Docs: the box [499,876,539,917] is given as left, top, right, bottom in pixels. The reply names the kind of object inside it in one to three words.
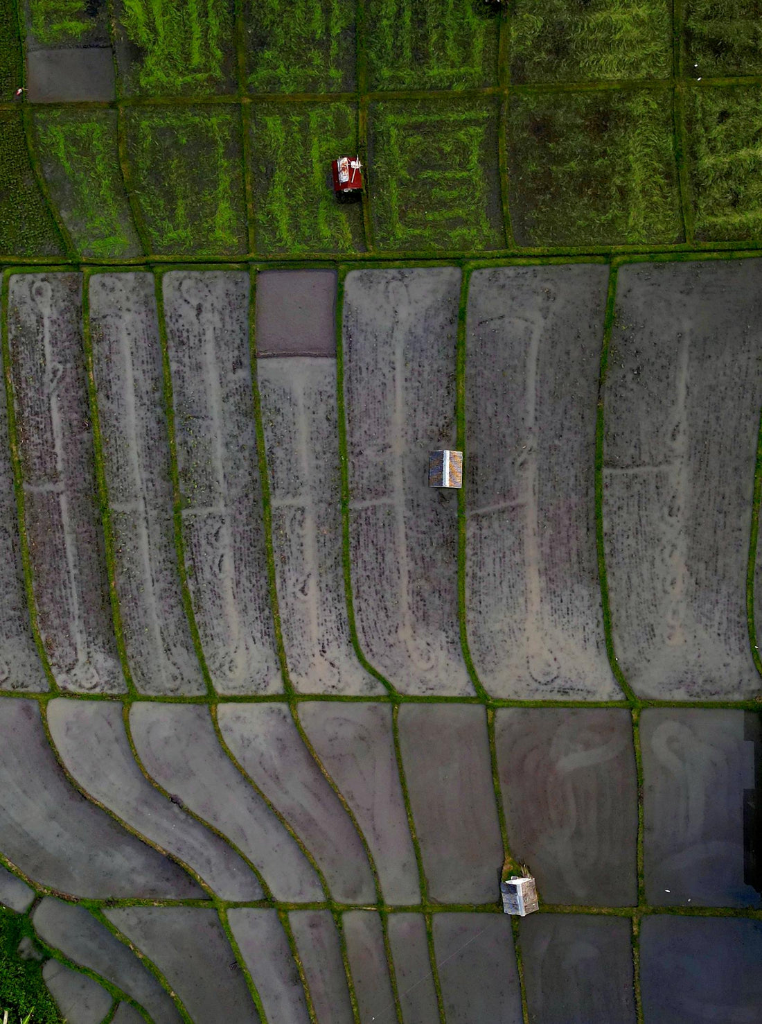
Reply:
shed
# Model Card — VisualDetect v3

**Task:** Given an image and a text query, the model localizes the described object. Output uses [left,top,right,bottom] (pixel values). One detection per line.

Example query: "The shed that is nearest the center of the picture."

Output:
[428,450,463,489]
